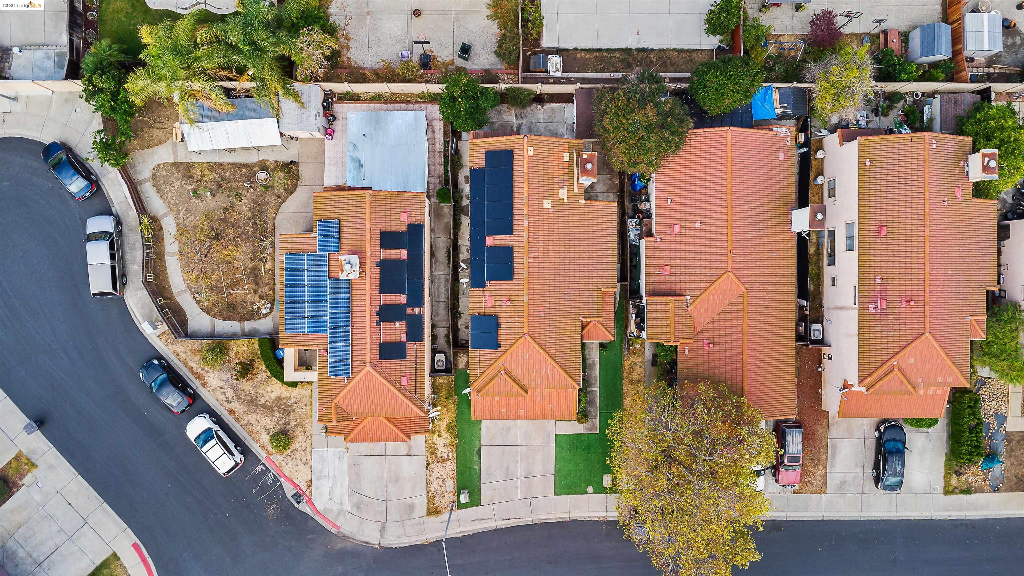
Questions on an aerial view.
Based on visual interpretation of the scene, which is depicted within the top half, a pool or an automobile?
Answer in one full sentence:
Visible within the top half is an automobile.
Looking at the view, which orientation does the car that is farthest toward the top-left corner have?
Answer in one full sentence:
The car that is farthest toward the top-left corner is oriented at an angle.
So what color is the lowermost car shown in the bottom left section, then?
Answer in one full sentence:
The lowermost car shown in the bottom left section looks white in the image.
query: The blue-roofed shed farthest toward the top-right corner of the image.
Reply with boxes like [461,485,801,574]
[903,21,953,66]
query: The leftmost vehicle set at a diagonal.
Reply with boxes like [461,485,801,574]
[46,140,102,206]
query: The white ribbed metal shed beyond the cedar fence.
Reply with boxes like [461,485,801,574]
[948,13,1003,60]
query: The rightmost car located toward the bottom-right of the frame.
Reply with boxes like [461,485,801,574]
[871,418,911,492]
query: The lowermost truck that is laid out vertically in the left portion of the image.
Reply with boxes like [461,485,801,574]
[86,215,129,298]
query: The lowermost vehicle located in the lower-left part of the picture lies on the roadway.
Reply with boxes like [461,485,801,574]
[189,410,249,477]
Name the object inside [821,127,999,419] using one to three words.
house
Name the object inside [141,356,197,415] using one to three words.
car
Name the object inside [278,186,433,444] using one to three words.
house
